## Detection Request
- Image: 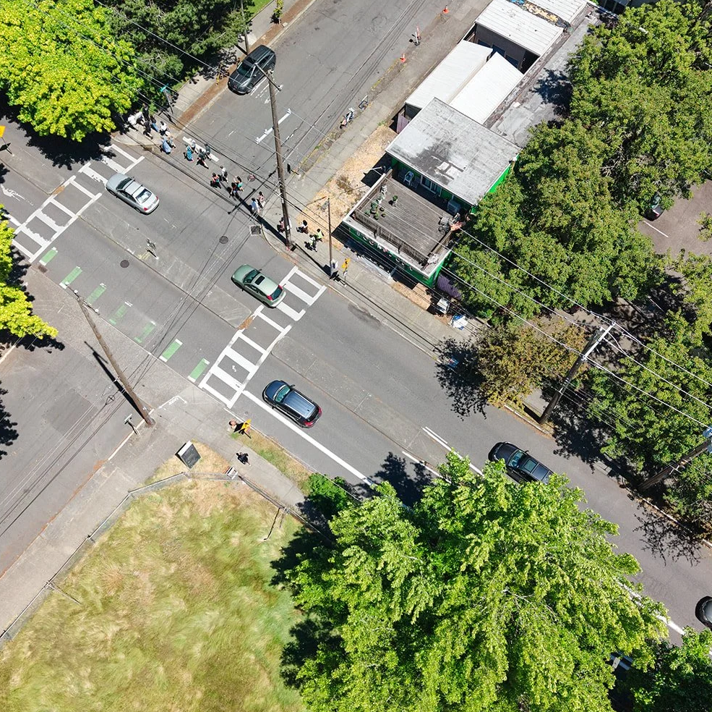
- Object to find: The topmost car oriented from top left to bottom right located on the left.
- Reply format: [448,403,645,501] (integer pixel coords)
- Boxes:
[103,173,163,218]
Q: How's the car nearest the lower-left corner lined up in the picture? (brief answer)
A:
on a diagonal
